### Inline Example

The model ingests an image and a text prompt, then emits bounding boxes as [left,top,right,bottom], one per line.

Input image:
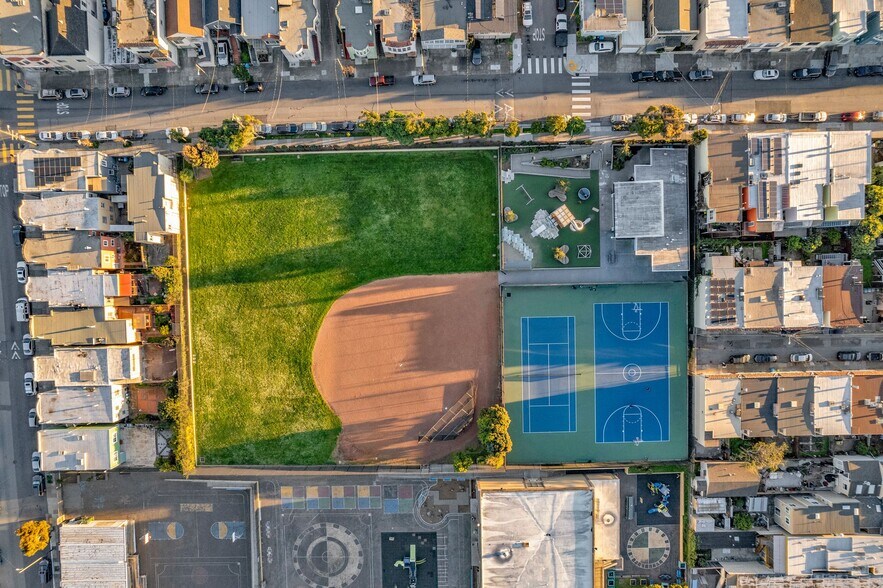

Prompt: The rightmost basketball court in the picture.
[594,302,670,443]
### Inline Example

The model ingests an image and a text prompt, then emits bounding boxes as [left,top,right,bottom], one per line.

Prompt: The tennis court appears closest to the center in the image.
[522,316,577,433]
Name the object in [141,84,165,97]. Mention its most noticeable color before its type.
black vehicle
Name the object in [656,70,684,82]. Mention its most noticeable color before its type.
black vehicle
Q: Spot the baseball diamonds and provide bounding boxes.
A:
[187,152,499,464]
